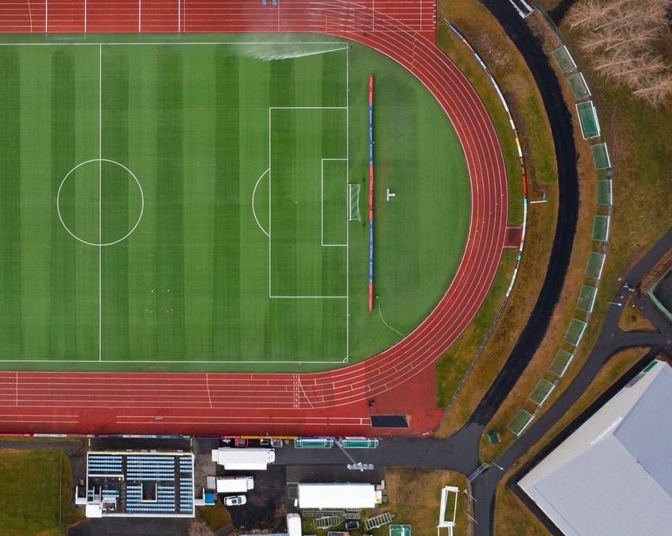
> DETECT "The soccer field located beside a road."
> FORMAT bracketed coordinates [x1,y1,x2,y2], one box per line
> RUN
[0,31,472,374]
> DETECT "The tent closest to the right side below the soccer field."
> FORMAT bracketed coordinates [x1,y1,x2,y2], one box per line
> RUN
[295,480,381,508]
